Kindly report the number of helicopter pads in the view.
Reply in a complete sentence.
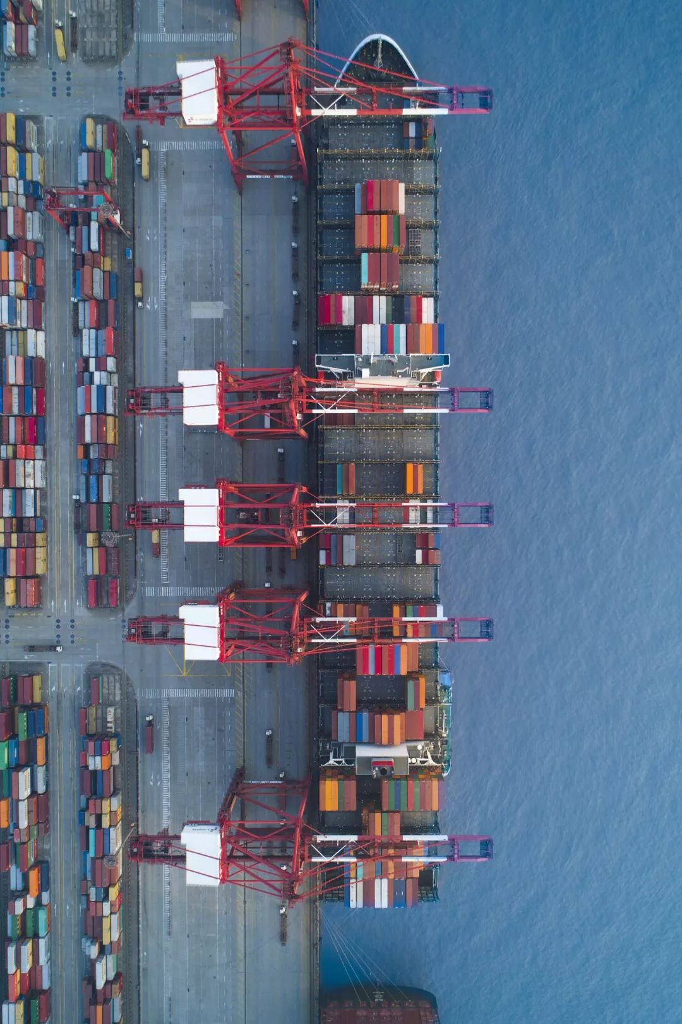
There are no helicopter pads in the image.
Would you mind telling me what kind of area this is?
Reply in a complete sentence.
This image shows a port.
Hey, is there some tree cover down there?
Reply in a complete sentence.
No, no tree cover is visible.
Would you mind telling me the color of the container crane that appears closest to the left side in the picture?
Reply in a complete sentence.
The container crane that appears closest to the left side is red.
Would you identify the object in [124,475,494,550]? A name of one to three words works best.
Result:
container crane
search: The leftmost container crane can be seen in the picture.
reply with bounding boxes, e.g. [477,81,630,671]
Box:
[46,189,125,239]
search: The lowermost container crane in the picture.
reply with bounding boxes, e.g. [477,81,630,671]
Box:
[126,764,495,906]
